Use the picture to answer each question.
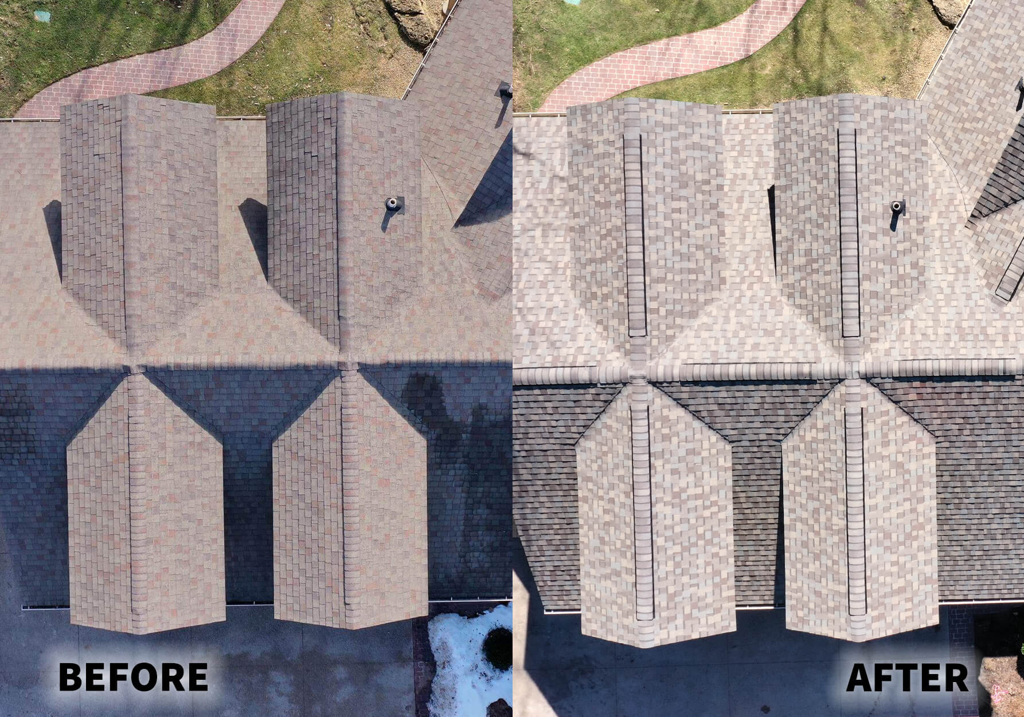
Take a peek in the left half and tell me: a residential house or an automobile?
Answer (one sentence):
It is a residential house that can be seen in the left half.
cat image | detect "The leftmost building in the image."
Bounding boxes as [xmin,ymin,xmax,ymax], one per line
[0,0,516,635]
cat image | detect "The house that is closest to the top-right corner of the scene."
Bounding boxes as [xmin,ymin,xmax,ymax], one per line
[512,0,1024,650]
